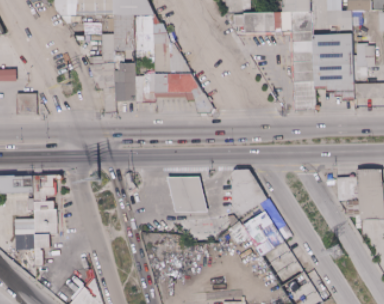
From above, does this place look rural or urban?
urban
